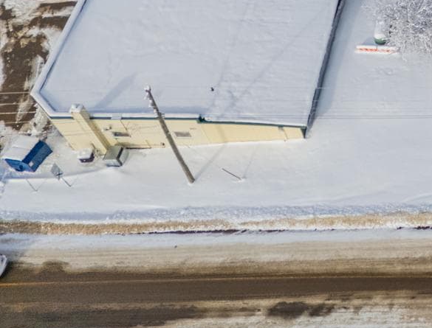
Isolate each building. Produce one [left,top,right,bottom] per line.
[0,128,58,180]
[28,0,342,153]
